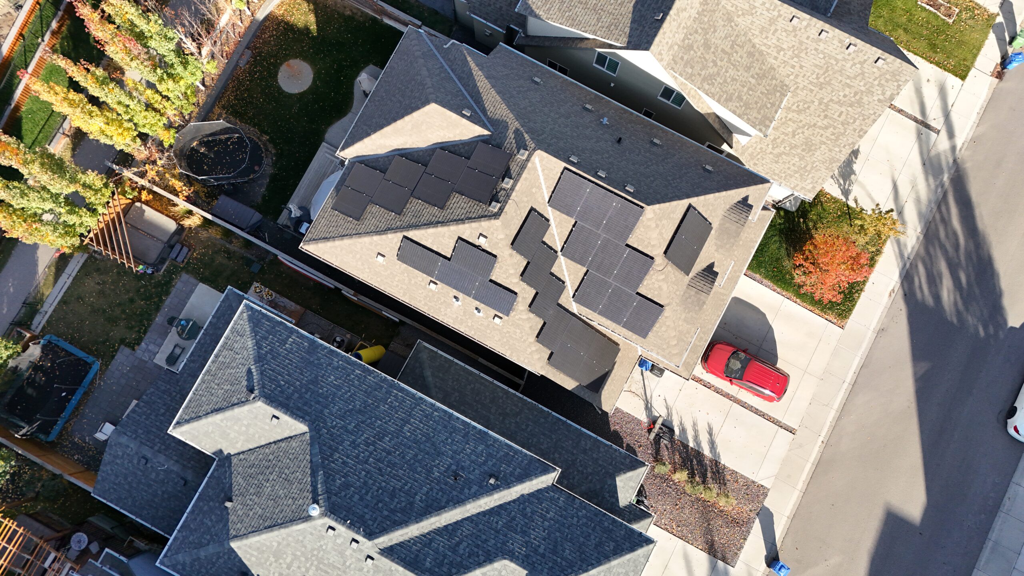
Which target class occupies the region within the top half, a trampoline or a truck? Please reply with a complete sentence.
Visible within the top half is a trampoline.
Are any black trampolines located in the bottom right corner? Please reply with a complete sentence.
No, I see no black trampoline in the bottom right corner.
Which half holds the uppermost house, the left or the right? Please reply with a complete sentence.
The uppermost house sits on the right side.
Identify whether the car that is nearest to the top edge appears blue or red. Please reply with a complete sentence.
The color of the car that is nearest to the top edge is red.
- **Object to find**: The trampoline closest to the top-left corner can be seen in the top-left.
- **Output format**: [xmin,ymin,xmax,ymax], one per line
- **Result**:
[171,119,278,193]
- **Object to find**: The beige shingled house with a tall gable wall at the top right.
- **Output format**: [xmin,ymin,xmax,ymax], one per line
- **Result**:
[465,0,916,203]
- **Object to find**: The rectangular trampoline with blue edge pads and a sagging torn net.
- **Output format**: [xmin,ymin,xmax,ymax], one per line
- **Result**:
[0,329,98,444]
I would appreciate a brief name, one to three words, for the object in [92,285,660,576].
house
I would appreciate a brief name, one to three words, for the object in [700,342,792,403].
car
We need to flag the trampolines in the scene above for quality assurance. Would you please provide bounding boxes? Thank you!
[171,119,278,193]
[0,329,98,444]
